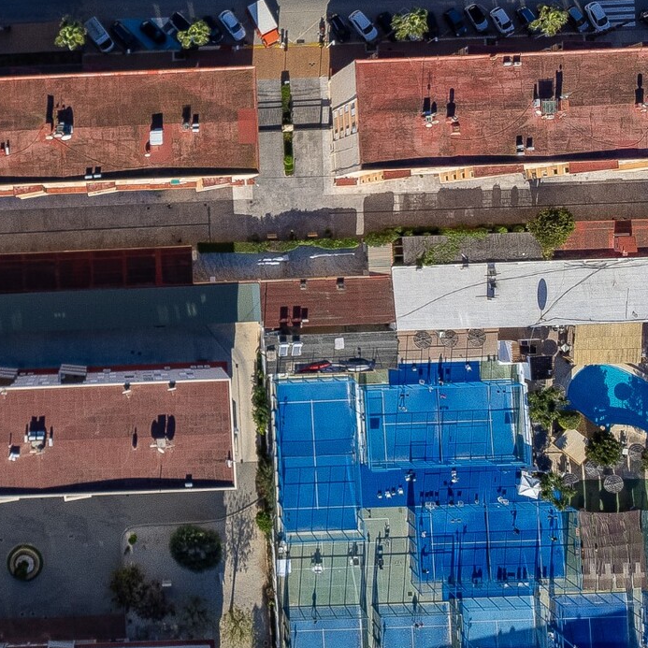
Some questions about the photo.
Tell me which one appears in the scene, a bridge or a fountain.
fountain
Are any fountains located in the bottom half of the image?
Yes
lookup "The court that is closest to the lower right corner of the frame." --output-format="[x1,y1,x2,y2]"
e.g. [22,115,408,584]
[552,593,648,648]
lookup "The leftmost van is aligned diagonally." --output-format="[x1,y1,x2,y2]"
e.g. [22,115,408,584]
[83,15,114,54]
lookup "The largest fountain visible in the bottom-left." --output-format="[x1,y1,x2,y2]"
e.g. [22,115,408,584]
[7,543,44,583]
